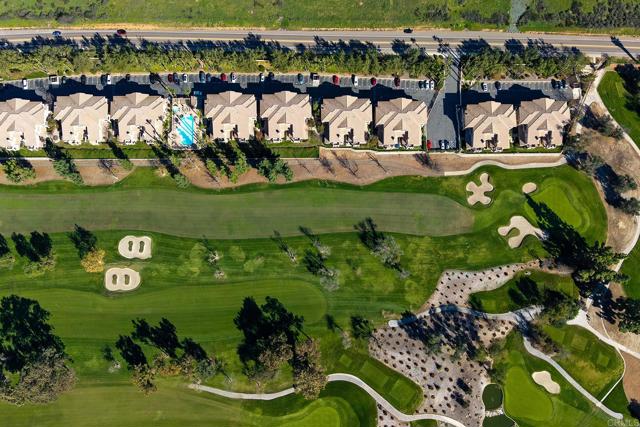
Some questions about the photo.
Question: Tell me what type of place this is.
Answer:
golf course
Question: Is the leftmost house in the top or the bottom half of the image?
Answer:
top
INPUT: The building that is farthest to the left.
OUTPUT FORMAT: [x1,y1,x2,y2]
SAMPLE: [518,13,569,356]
[0,98,54,153]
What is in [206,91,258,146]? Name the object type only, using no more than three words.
house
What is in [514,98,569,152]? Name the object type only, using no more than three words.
house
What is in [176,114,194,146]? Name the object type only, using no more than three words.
swimming pool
